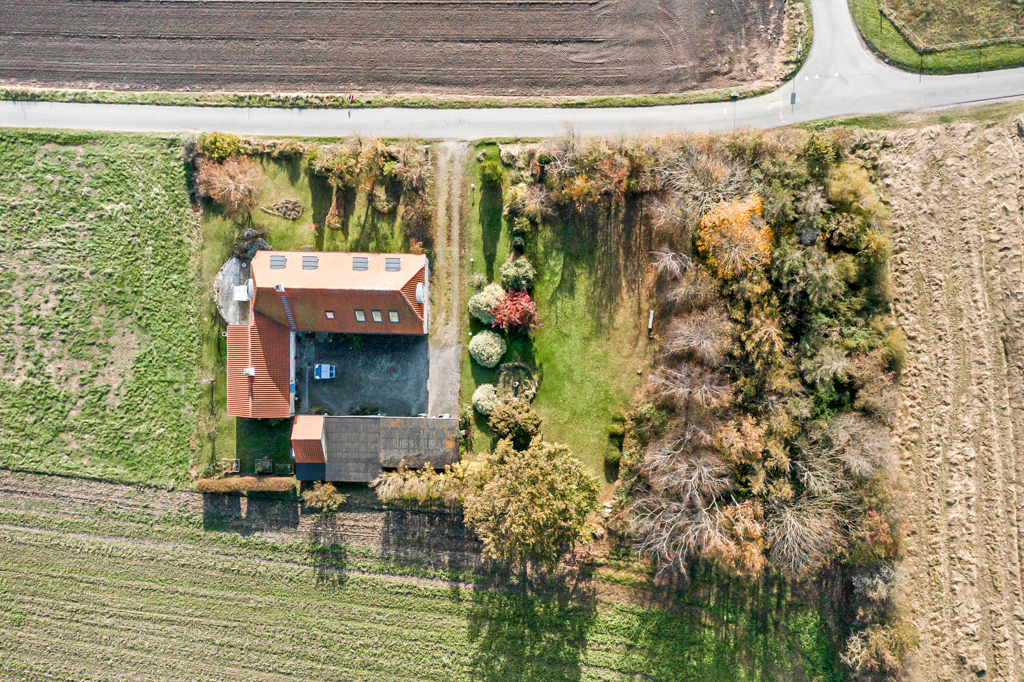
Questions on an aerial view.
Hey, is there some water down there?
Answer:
No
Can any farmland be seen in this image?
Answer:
Yes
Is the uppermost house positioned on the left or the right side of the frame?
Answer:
left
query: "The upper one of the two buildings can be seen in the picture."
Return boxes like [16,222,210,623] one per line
[227,249,428,420]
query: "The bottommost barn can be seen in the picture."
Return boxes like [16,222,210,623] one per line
[290,414,459,481]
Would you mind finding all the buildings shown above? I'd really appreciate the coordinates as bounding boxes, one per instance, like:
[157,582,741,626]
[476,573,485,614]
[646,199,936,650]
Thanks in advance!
[227,249,428,420]
[290,414,459,481]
